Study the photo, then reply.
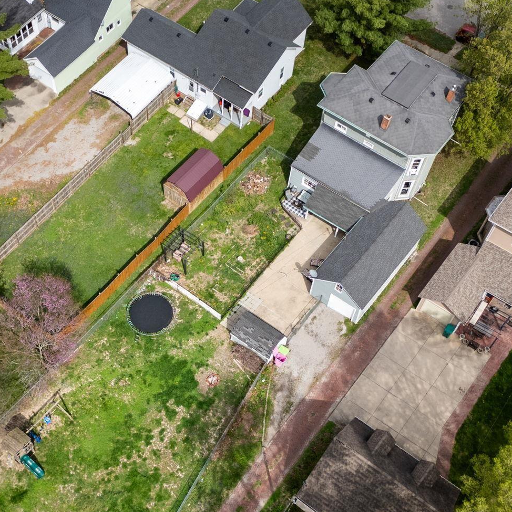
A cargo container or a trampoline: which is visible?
trampoline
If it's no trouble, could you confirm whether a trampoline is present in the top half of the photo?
No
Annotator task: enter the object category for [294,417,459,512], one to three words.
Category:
building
